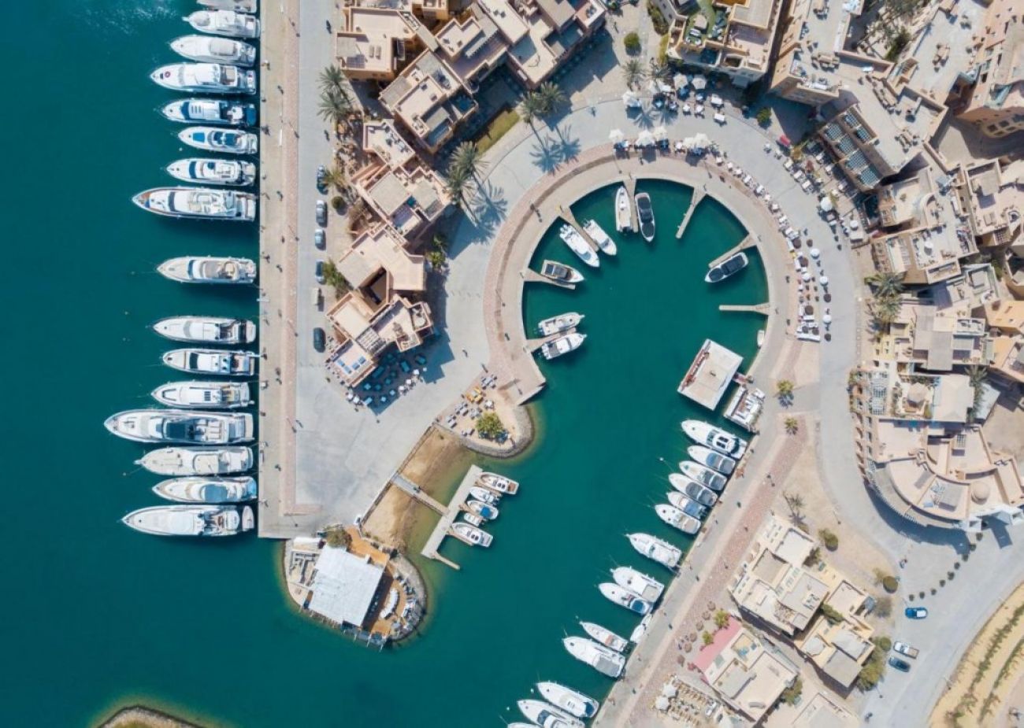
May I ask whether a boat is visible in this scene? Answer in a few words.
Yes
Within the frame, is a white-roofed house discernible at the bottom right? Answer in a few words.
Yes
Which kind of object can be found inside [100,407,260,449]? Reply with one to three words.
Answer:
boat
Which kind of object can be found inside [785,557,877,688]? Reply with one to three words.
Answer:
house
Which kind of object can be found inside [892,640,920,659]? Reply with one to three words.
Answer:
vehicle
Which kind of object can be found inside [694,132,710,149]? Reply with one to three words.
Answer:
umbrella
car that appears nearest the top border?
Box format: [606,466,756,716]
[315,166,327,194]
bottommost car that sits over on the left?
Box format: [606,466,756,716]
[312,327,325,352]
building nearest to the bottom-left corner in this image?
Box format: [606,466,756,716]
[294,537,387,626]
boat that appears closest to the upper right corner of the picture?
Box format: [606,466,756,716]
[705,253,750,281]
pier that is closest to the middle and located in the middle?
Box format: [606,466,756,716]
[528,327,576,351]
